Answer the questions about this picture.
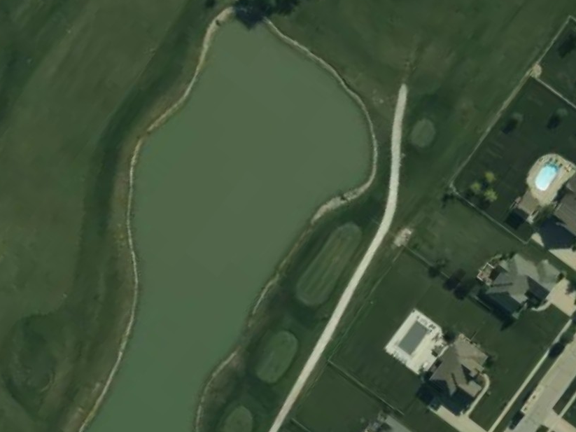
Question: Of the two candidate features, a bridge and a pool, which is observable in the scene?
pool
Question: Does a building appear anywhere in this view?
Yes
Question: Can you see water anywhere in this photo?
Yes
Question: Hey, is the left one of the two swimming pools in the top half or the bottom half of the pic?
bottom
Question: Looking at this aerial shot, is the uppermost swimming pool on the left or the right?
right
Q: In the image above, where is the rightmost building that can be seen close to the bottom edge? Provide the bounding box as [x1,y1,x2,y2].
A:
[425,335,490,415]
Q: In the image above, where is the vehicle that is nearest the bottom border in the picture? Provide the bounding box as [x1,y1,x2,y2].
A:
[510,412,525,430]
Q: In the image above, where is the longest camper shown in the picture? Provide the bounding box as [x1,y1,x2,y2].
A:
[520,385,545,416]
